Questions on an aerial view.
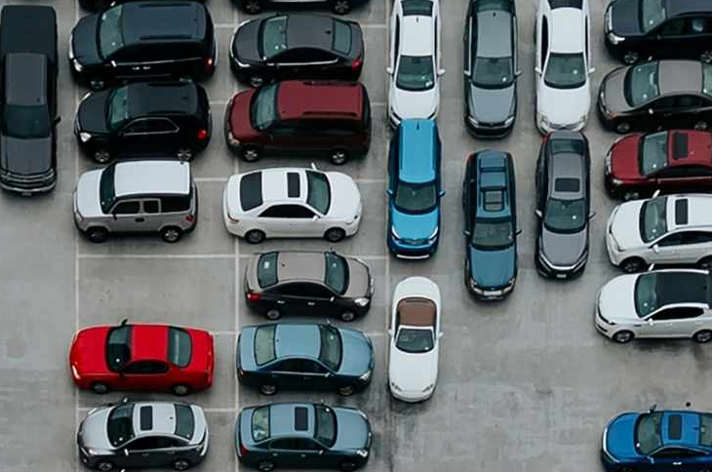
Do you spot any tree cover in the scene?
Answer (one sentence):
No, no tree cover is visible.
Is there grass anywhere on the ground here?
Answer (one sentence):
No, grass can't be seen anywhere here.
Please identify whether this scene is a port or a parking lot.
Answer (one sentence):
It's a parking lot.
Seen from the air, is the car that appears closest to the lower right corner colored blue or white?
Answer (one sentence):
In this view, the car that appears closest to the lower right corner is blue.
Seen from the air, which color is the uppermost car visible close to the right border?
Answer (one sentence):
The color of the uppermost car visible close to the right border is black.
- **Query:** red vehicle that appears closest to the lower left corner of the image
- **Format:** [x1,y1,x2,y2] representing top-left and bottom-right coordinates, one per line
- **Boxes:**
[69,313,217,394]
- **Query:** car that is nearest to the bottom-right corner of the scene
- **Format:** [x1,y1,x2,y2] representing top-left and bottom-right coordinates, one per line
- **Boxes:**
[600,400,712,472]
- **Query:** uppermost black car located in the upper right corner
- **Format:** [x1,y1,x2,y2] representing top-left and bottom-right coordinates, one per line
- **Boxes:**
[602,0,712,61]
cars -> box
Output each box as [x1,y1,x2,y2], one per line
[67,0,219,88]
[531,127,598,280]
[243,240,377,321]
[77,392,210,471]
[234,392,376,471]
[458,145,525,303]
[459,0,525,139]
[229,3,367,86]
[531,0,598,130]
[234,315,377,395]
[69,313,217,394]
[602,0,712,61]
[222,160,365,242]
[383,0,448,121]
[595,49,712,133]
[384,271,448,406]
[603,187,712,272]
[384,107,449,261]
[73,75,213,162]
[592,261,712,342]
[600,400,712,472]
[222,73,374,163]
[72,157,200,243]
[601,118,712,200]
